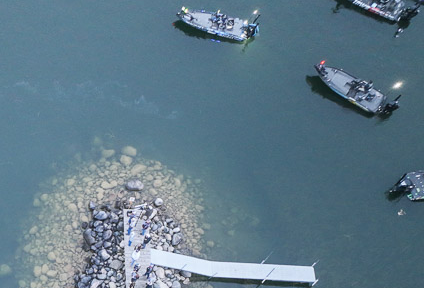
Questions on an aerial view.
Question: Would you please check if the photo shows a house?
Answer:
No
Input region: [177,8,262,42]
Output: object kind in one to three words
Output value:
boat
